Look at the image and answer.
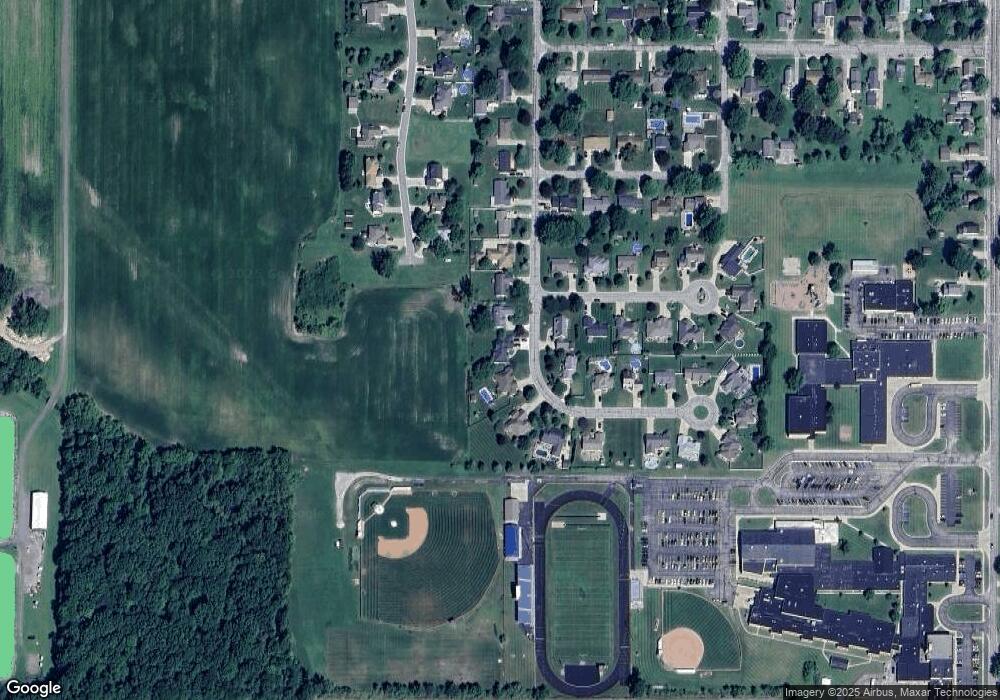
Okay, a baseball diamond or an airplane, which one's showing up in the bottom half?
baseball diamond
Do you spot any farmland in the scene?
Yes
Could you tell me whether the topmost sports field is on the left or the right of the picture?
right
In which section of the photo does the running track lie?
bottom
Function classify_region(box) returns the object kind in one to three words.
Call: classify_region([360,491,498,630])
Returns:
baseball field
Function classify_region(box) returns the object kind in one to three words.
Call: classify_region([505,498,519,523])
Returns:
building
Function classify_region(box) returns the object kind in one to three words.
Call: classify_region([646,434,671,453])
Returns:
house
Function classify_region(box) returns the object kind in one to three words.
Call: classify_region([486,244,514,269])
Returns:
house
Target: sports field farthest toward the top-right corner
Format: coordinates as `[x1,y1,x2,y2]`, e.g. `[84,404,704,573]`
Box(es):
[779,190,922,252]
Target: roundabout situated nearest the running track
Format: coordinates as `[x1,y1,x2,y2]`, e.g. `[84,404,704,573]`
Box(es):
[683,394,720,431]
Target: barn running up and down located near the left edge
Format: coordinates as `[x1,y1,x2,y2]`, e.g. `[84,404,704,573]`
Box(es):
[32,491,47,530]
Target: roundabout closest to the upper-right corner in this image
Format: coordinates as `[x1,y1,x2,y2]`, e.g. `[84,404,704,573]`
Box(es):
[684,279,719,314]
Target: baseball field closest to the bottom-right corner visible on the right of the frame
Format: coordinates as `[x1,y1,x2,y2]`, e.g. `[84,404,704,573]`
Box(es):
[663,590,741,670]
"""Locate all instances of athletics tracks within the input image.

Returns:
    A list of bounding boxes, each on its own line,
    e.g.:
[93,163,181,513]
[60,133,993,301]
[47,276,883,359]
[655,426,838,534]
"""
[535,483,629,696]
